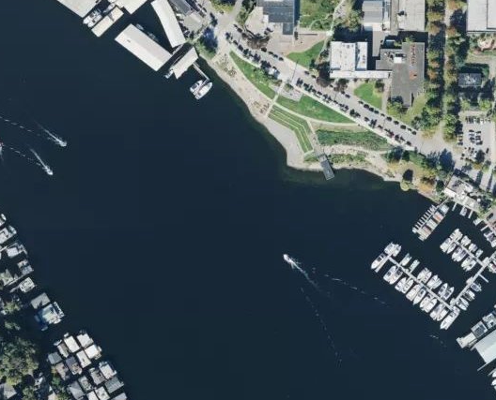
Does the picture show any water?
Yes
